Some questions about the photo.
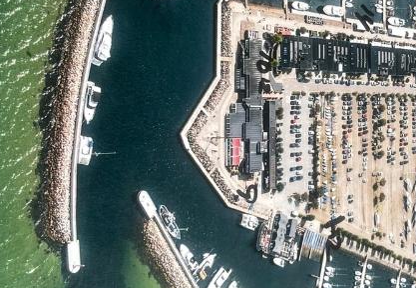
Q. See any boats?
Yes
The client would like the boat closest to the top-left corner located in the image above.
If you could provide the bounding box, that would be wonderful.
[94,14,112,66]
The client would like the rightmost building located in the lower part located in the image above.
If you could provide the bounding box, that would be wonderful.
[302,229,331,249]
